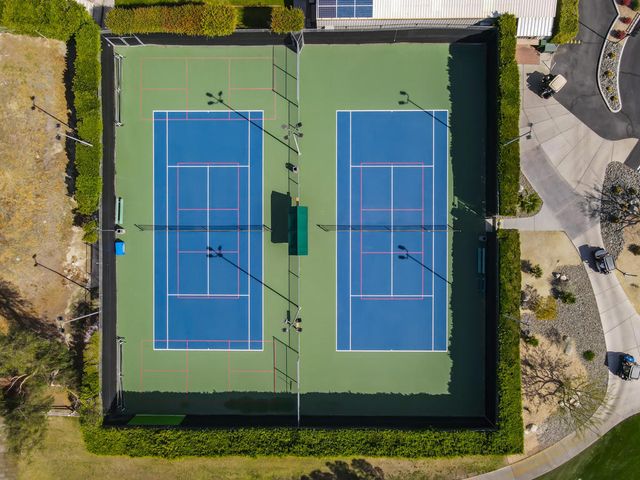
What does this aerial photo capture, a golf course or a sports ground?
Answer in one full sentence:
What you see here is a sports ground.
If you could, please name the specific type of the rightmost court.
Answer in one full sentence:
I'd identify the rightmost court as a tennis court.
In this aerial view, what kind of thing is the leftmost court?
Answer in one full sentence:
Specifically, the leftmost court is a tennis court.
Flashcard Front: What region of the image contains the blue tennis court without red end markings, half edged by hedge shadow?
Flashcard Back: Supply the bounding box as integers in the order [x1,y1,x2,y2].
[298,45,486,416]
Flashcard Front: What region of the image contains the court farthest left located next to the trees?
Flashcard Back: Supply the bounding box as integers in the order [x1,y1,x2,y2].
[115,45,298,416]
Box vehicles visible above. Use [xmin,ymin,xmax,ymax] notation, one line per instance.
[617,356,640,382]
[538,74,565,98]
[591,249,618,274]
